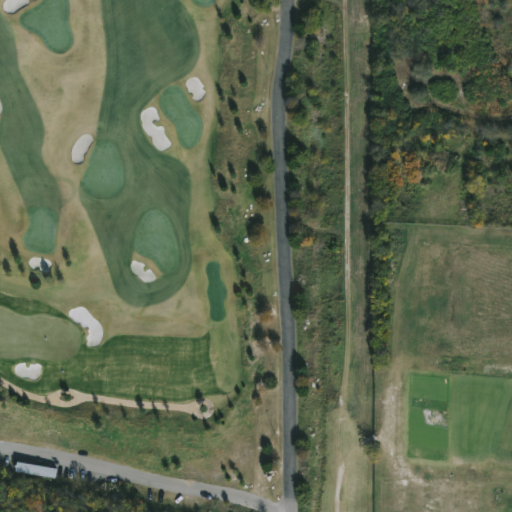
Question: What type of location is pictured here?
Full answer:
This image shows a golf course.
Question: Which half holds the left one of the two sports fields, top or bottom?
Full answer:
It is in the bottom half that the left one of the two sports fields appears.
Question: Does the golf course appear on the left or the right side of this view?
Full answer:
The golf course sits on the left side.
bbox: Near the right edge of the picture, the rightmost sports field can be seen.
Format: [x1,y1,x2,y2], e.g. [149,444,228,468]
[450,364,512,471]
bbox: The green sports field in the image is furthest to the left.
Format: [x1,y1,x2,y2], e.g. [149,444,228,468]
[401,367,464,470]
